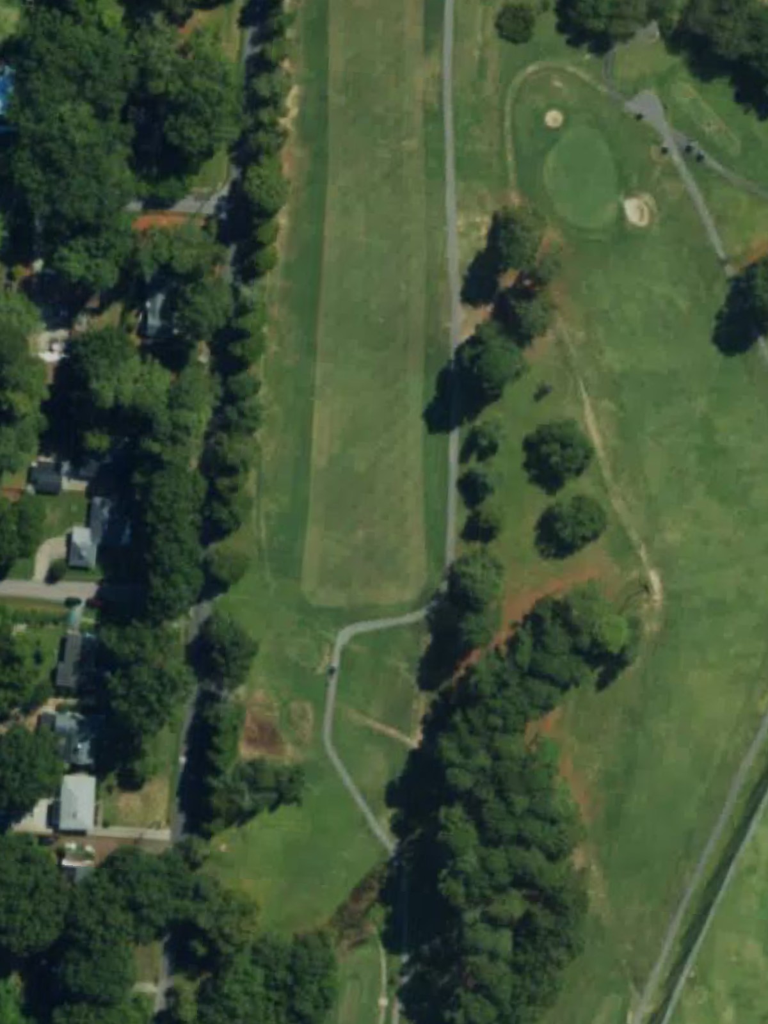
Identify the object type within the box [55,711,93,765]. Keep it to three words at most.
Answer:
house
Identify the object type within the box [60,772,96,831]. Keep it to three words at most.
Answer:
house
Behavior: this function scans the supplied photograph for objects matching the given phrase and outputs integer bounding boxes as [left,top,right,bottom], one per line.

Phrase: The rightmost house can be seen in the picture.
[146,292,169,337]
